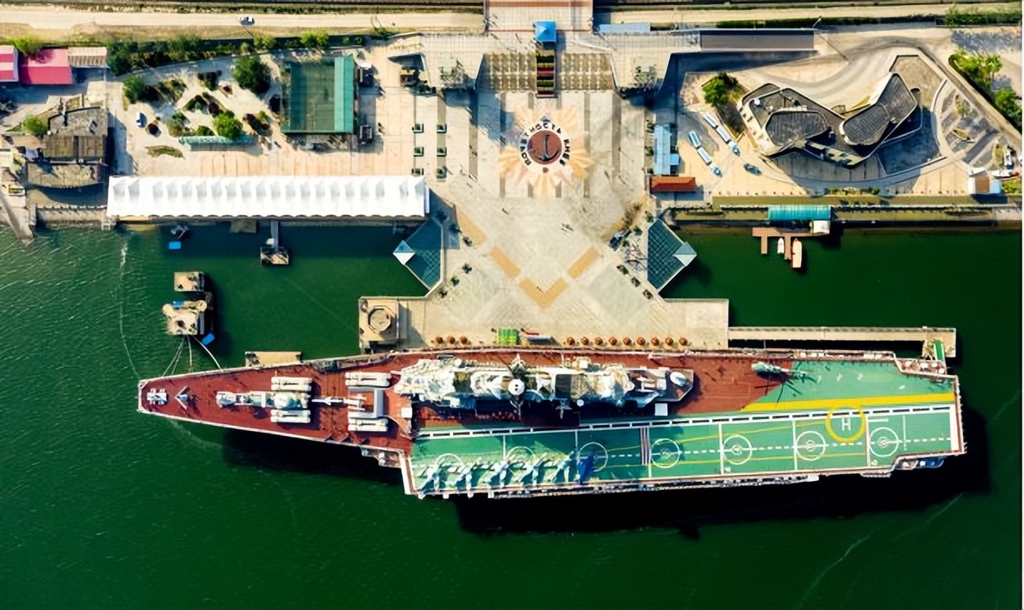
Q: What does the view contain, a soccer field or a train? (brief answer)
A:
train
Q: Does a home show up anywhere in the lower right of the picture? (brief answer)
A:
No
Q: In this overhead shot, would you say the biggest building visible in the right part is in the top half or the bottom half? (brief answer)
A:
top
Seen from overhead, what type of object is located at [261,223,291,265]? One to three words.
pier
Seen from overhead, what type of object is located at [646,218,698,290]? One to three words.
building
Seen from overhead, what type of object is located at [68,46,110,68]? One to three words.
shed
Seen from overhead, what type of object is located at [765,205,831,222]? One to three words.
house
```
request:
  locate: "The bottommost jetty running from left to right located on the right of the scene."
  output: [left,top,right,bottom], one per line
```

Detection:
[729,326,956,358]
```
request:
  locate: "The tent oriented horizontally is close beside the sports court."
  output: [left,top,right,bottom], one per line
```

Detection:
[107,176,429,219]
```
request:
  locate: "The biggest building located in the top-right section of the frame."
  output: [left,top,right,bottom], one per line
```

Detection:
[735,72,923,167]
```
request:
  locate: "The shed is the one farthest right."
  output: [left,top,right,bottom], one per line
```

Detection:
[961,167,1001,196]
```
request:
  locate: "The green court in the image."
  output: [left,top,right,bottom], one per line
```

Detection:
[284,55,357,138]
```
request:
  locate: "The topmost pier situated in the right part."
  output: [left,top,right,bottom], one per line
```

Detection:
[751,227,827,259]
